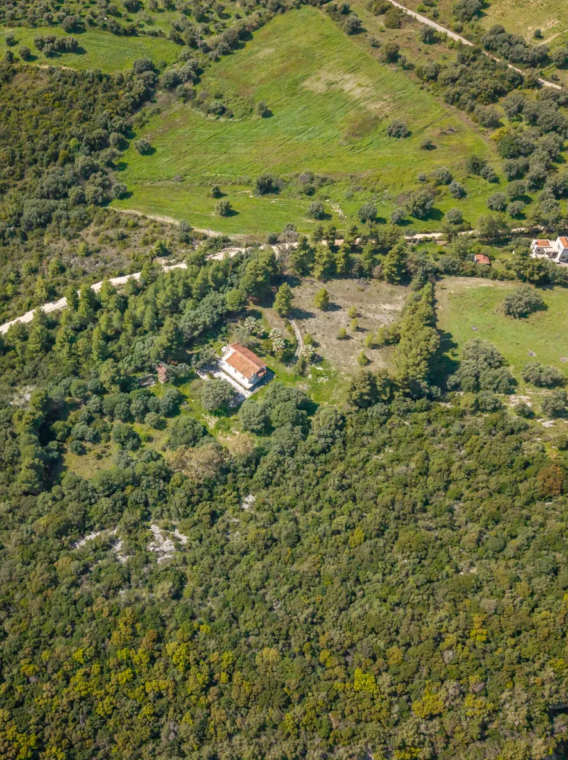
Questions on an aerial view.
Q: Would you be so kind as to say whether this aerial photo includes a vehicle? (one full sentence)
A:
No, no vehicle can be seen from above.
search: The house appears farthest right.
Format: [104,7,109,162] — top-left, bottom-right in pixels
[531,237,568,260]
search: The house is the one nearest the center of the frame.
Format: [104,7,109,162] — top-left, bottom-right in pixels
[217,344,270,393]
